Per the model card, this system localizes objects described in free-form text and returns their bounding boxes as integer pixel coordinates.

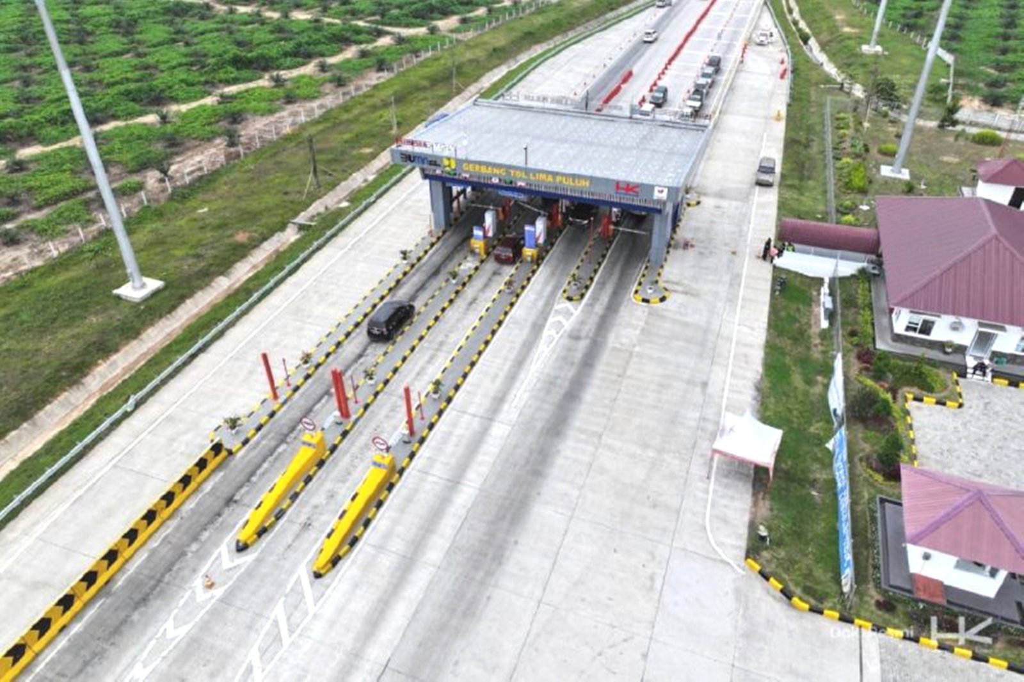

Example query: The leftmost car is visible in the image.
[365,296,417,341]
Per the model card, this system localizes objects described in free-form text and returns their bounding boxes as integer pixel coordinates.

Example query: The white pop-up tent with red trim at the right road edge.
[708,405,781,492]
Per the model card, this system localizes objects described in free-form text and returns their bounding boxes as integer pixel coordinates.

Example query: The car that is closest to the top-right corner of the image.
[755,28,772,45]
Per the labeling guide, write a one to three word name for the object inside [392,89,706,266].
toll station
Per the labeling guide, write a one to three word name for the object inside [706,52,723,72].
car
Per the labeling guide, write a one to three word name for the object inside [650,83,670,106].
car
